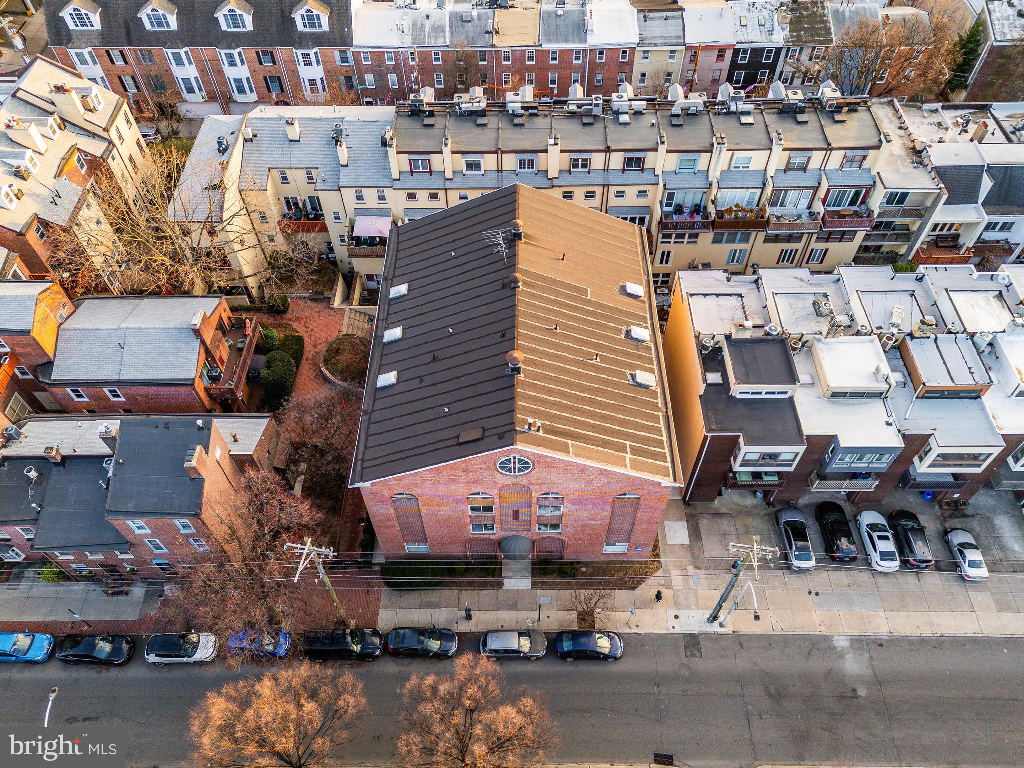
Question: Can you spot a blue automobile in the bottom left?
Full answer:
Yes, a blue automobile shows up in the bottom left.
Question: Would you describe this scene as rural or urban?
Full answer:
From above, the setting appears urban.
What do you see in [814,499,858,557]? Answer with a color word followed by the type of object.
black car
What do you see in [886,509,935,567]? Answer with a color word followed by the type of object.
black car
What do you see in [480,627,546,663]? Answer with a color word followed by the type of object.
gray car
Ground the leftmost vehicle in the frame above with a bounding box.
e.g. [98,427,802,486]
[0,628,58,663]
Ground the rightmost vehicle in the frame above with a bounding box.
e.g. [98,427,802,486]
[941,526,990,577]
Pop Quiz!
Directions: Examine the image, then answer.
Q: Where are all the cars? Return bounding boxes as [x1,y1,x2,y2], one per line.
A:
[886,509,935,567]
[139,627,220,663]
[480,627,546,663]
[50,628,137,663]
[814,499,858,557]
[297,625,385,664]
[556,628,624,663]
[773,510,817,568]
[387,628,458,663]
[854,510,901,568]
[0,628,58,663]
[141,127,168,147]
[941,526,990,577]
